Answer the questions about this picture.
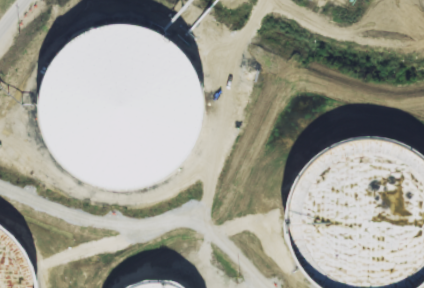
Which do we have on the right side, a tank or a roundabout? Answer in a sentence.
Looking on the right side, you will find a tank.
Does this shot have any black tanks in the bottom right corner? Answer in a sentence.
No, there is no black tank in the bottom right corner.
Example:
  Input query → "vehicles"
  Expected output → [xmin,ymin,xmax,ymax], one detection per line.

[213,89,222,98]
[226,75,232,88]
